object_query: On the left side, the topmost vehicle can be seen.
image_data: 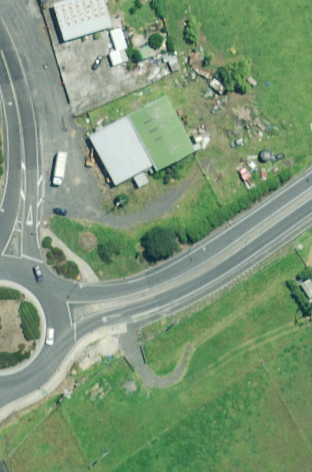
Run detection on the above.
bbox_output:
[90,55,104,70]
